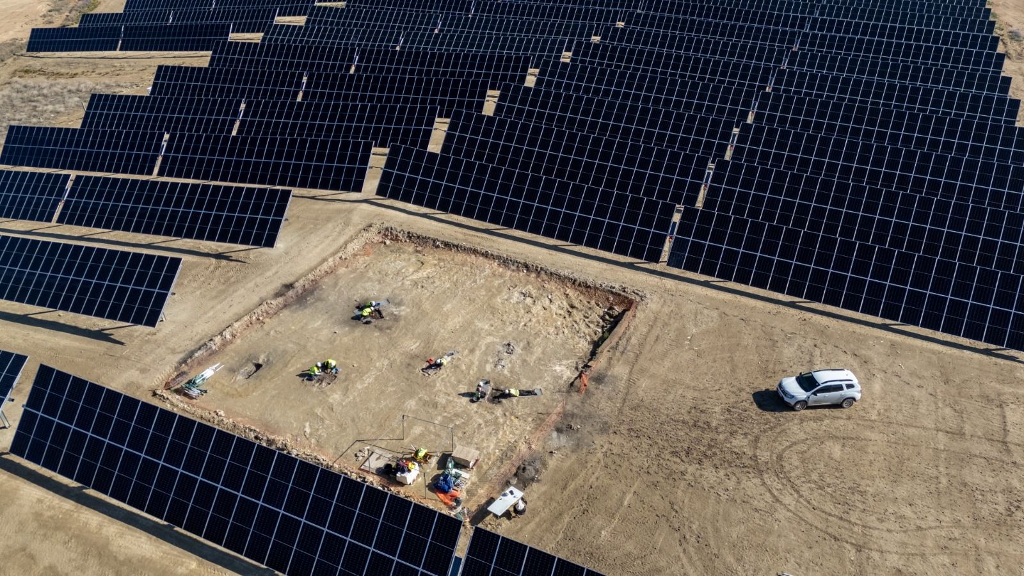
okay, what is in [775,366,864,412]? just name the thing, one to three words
car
